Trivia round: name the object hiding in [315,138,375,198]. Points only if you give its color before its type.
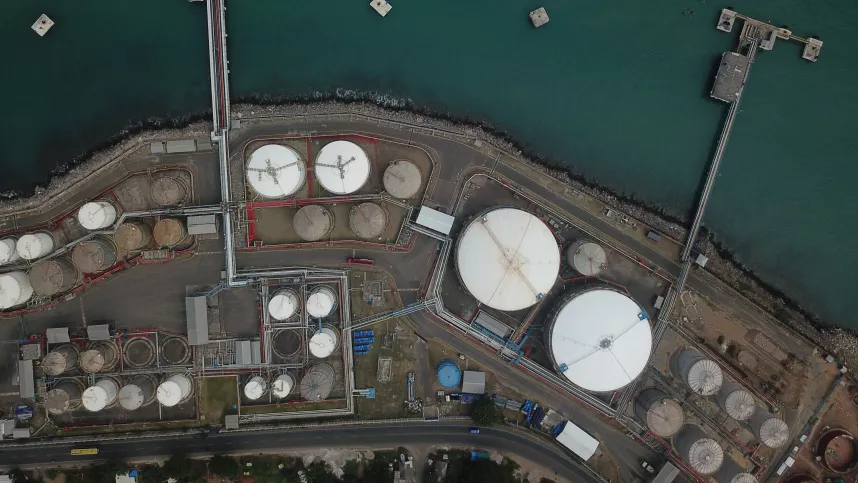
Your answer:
white storage tank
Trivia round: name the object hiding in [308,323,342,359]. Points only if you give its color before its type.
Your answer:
white storage tank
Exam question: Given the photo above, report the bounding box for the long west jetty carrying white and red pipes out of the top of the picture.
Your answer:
[207,0,231,140]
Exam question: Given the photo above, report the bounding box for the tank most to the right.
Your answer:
[815,428,858,474]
